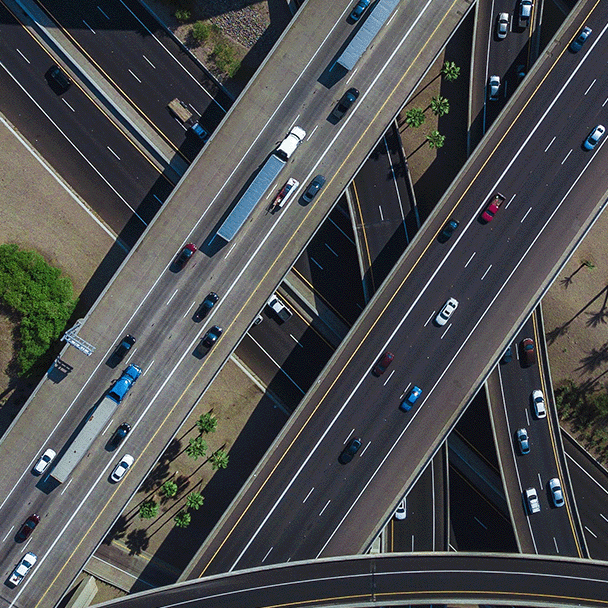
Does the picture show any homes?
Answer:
No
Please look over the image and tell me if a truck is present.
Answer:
Yes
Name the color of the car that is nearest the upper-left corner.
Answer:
black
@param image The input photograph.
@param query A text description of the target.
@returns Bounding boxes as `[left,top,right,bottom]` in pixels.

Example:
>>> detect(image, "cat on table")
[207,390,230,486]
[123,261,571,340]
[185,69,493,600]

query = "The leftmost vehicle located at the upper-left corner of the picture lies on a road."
[44,61,73,92]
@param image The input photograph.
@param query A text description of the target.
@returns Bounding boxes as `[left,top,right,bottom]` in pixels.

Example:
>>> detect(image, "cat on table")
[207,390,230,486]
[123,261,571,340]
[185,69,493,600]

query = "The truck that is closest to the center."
[268,292,296,323]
